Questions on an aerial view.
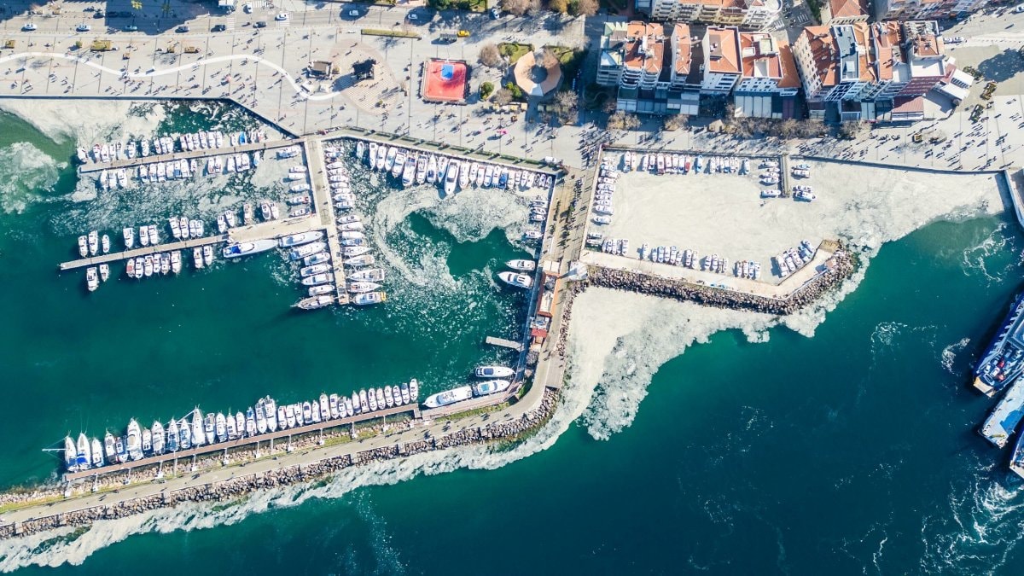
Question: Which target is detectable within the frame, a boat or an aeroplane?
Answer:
boat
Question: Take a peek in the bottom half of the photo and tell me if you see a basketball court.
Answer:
No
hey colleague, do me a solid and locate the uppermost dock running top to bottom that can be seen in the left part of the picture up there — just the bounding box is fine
[305,138,337,228]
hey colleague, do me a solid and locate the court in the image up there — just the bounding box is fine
[422,56,468,101]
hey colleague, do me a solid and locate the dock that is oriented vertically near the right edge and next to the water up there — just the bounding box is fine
[998,170,1024,237]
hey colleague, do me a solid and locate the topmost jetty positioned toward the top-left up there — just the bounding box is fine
[79,139,304,173]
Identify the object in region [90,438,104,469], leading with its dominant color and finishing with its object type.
white boat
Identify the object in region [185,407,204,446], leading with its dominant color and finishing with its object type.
white boat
